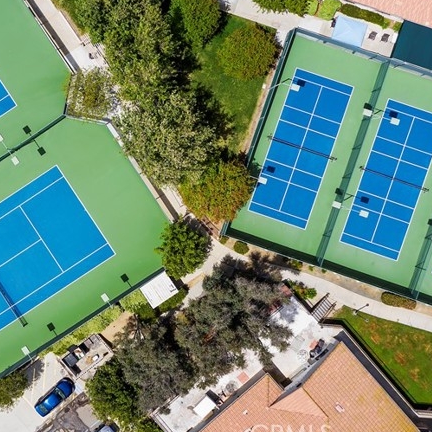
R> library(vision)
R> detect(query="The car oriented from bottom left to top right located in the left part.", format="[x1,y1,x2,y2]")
[34,378,77,416]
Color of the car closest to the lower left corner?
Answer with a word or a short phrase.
blue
